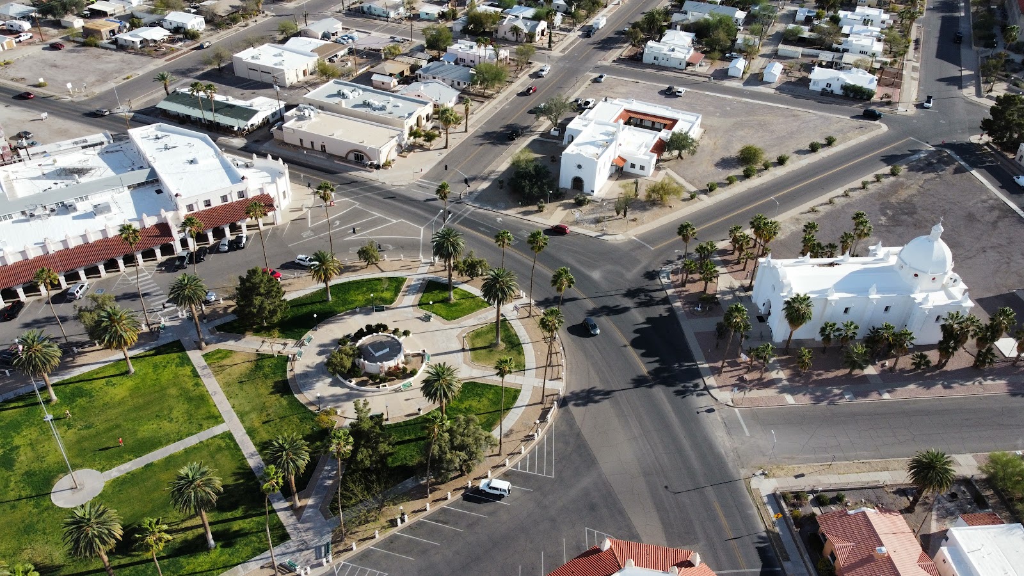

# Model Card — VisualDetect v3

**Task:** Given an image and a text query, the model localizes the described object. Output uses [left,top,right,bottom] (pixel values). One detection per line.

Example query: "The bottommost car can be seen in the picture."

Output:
[480,479,512,498]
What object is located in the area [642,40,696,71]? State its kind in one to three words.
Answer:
house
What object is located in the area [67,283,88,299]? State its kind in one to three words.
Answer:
vehicle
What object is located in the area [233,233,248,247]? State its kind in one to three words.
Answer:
car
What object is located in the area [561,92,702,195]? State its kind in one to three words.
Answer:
building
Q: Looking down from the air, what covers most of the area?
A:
paved ground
